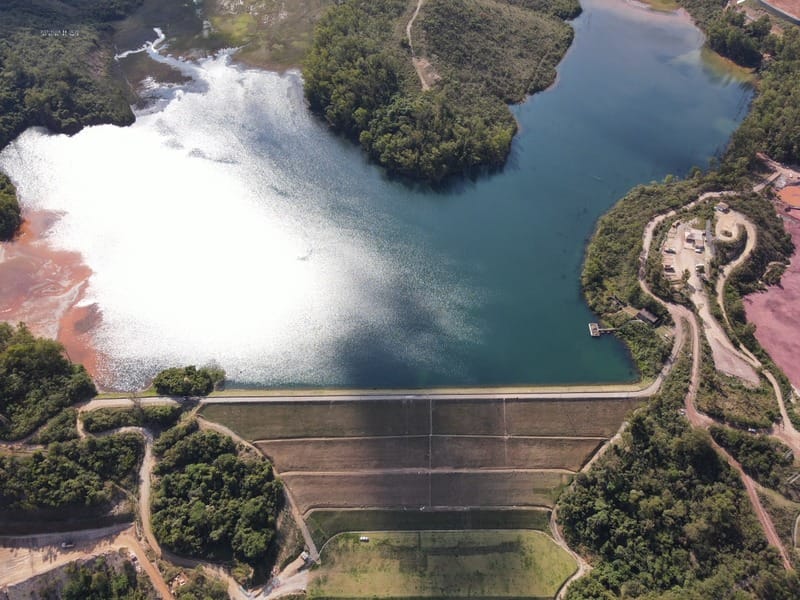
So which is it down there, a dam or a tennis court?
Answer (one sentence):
There is a dam in the scene.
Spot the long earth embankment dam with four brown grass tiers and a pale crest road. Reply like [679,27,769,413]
[162,384,646,537]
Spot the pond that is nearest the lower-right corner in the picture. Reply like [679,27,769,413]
[747,218,800,397]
